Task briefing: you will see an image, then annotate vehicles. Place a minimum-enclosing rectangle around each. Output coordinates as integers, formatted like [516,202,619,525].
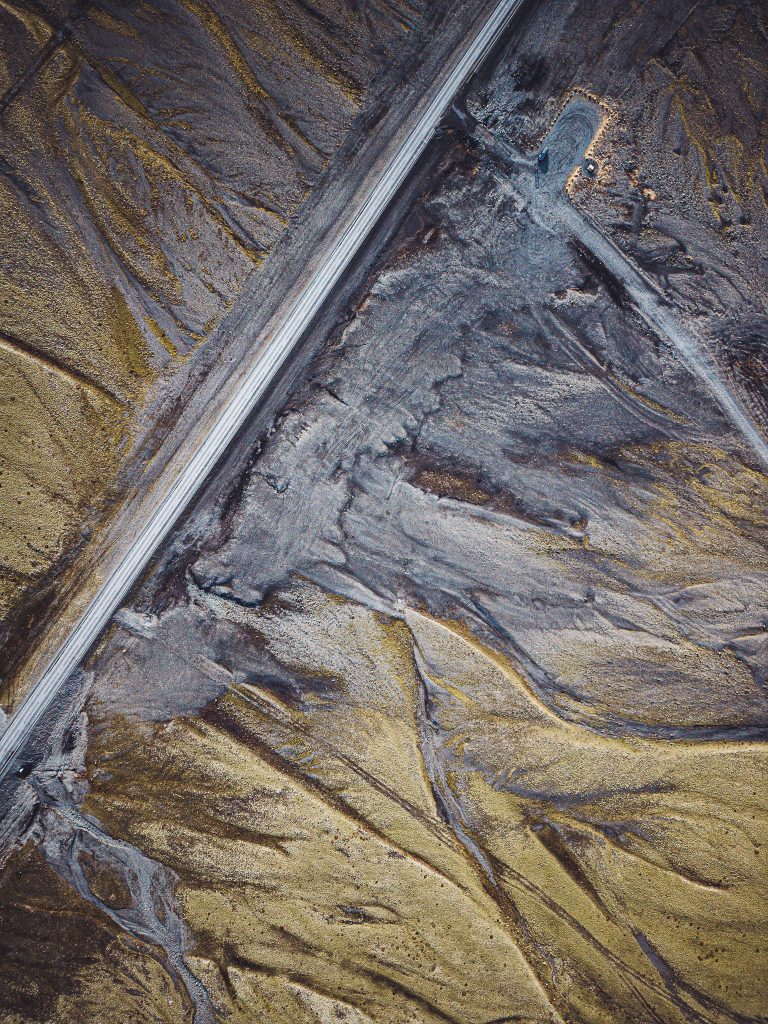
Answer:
[536,146,549,161]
